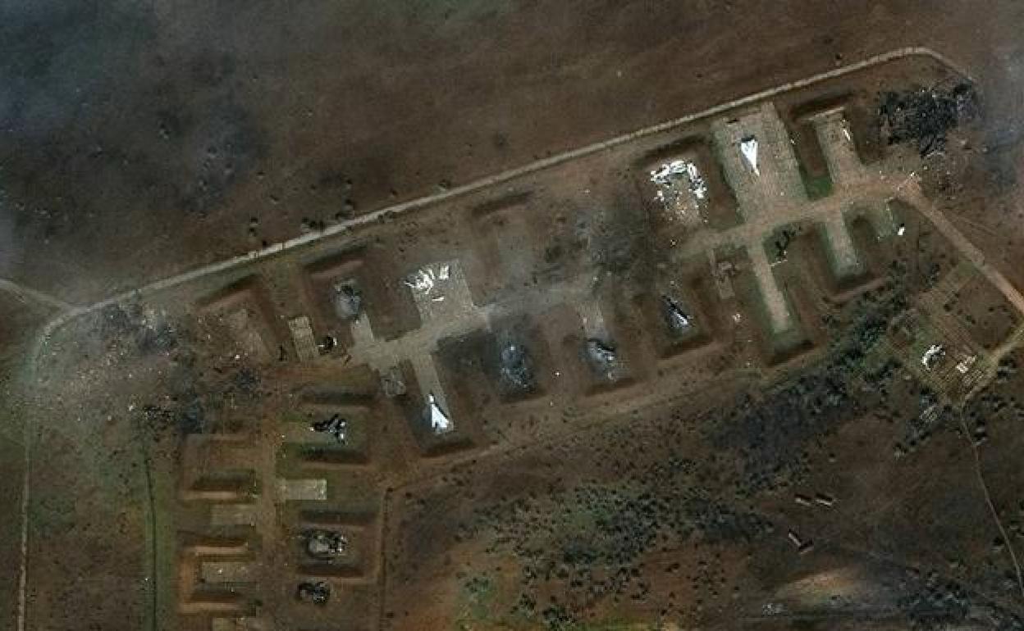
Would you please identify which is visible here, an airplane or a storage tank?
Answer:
airplane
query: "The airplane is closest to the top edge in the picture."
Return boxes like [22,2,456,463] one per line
[740,136,759,175]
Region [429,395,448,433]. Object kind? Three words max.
airplane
